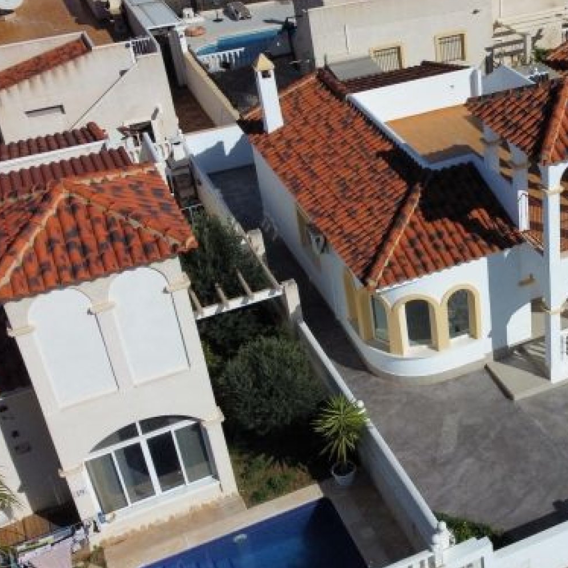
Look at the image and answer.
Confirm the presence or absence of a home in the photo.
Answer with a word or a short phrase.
Yes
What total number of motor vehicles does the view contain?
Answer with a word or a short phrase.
none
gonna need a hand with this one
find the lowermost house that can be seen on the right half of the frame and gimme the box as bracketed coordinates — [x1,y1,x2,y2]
[233,50,568,402]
